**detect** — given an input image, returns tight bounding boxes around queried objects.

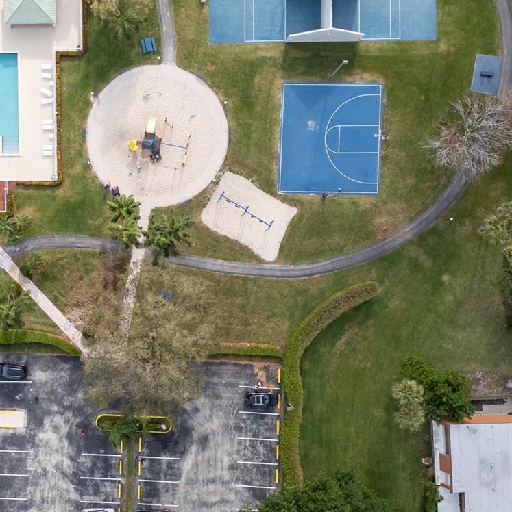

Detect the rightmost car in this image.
[244,392,280,410]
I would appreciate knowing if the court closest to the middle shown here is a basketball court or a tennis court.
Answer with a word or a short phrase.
basketball court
